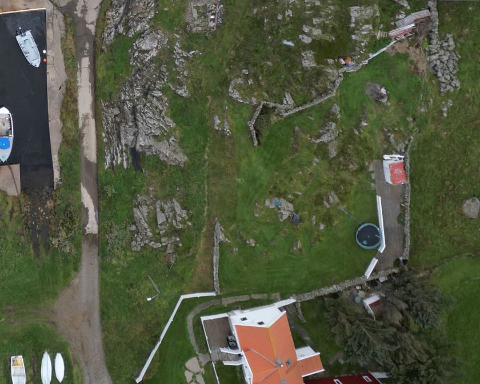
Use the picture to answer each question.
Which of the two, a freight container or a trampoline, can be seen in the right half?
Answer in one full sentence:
The one visible in the right half is a trampoline.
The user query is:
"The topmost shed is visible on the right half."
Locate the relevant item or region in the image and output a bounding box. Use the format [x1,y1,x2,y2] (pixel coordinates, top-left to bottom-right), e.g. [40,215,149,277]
[384,159,407,185]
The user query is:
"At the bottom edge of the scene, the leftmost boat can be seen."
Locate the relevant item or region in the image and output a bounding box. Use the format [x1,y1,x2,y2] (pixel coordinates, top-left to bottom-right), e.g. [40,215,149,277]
[11,354,26,384]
